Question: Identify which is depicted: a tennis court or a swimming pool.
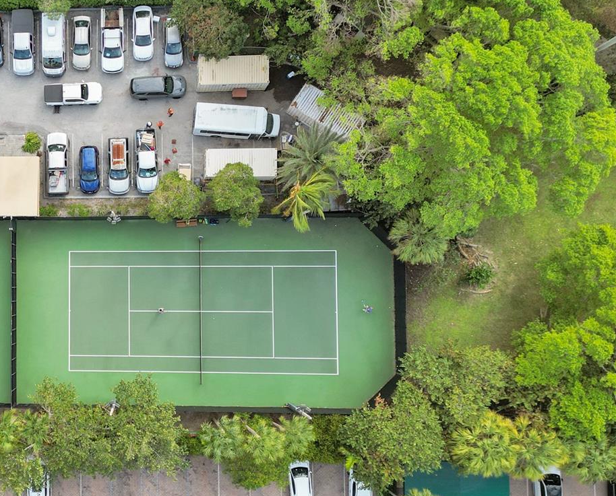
tennis court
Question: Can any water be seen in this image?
No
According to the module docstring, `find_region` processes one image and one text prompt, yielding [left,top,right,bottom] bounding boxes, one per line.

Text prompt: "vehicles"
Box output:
[99,6,126,75]
[40,8,67,80]
[131,11,156,62]
[532,467,565,496]
[69,17,94,73]
[191,102,281,138]
[135,127,161,194]
[9,7,37,78]
[131,73,186,100]
[346,462,372,496]
[44,133,71,196]
[289,456,315,496]
[77,145,102,195]
[29,457,53,496]
[161,19,186,71]
[106,138,133,196]
[44,78,102,106]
